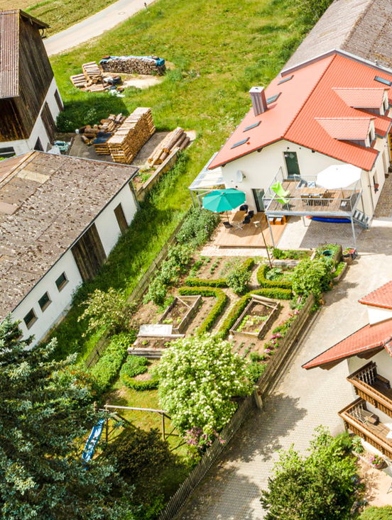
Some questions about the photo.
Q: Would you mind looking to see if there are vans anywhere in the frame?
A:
No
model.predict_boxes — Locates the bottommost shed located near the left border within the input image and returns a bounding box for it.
[0,147,141,381]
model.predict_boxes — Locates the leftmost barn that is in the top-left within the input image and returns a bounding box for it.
[0,9,63,152]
